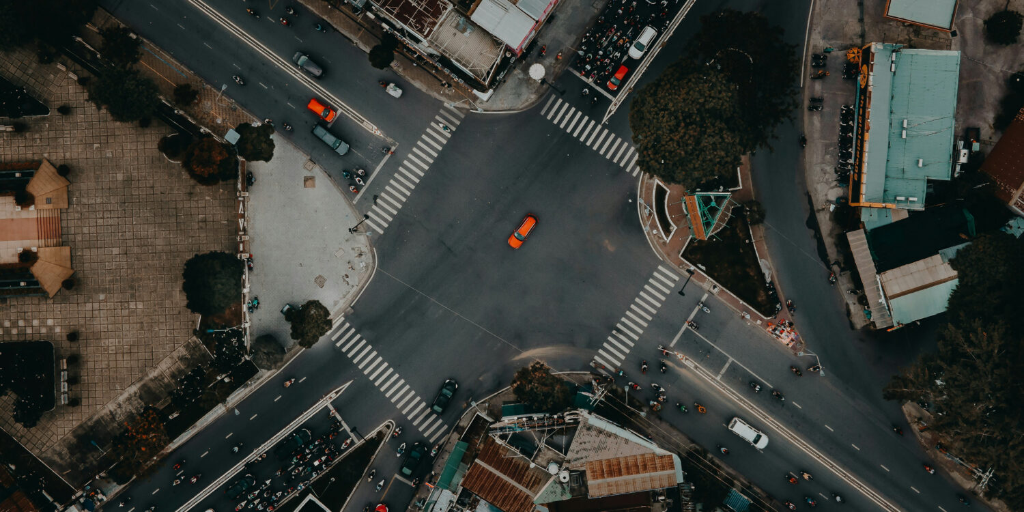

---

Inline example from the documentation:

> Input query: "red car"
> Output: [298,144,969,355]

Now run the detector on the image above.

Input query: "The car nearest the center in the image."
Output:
[507,212,539,250]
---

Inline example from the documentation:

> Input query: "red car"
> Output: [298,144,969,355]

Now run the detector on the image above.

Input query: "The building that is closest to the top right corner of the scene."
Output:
[881,0,959,34]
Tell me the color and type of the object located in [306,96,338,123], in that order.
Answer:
red car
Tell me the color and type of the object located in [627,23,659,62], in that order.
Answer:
white car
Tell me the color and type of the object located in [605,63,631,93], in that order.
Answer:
red car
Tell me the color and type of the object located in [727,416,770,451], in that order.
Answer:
white car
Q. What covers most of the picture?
paved ground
